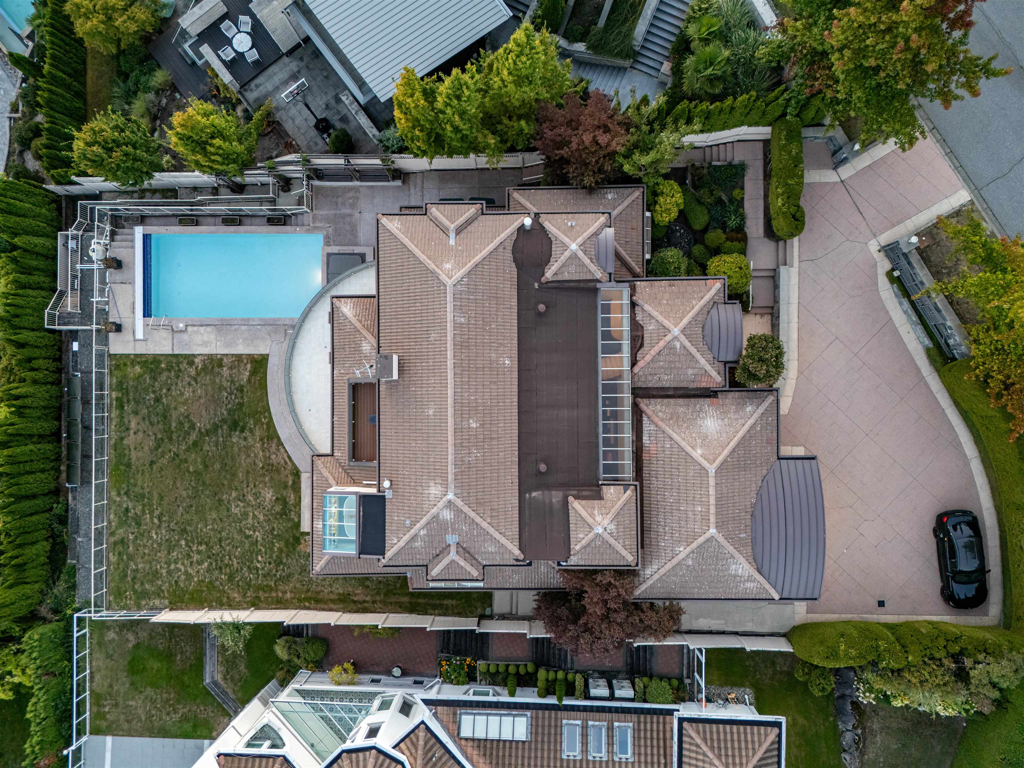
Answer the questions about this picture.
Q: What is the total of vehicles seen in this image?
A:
1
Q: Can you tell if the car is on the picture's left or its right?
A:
right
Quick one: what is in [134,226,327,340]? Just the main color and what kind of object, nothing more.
blue swimming pool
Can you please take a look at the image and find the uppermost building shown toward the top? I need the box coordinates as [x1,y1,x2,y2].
[285,0,514,108]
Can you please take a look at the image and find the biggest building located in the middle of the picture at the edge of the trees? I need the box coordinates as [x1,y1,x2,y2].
[283,183,824,604]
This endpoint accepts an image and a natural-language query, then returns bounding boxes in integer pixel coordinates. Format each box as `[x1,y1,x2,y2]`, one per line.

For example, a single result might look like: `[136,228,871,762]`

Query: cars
[929,513,995,611]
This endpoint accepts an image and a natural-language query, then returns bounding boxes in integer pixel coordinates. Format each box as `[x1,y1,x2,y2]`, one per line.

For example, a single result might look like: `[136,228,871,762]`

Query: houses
[283,183,824,604]
[285,0,514,108]
[171,661,788,768]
